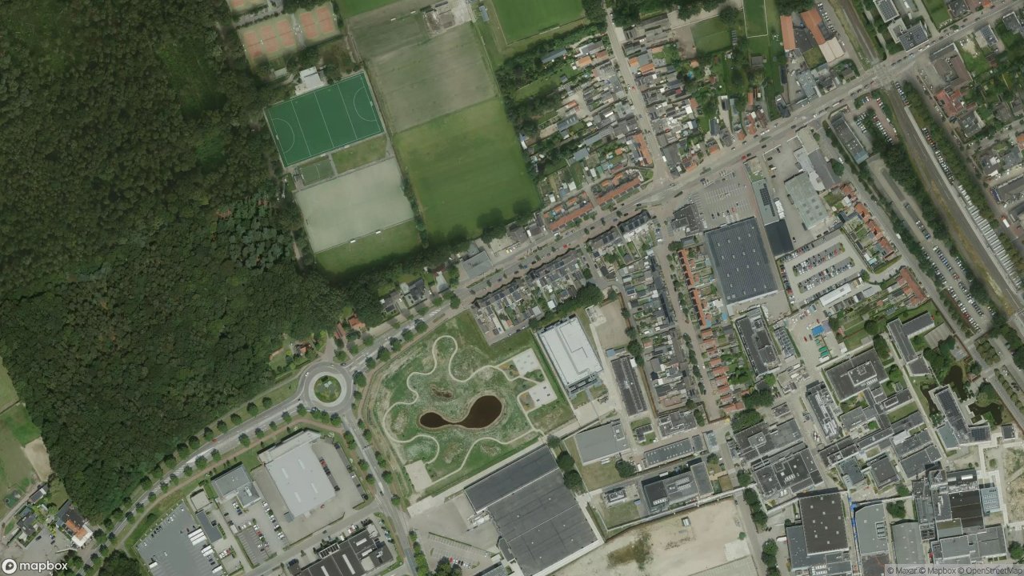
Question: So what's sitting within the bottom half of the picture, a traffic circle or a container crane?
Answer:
traffic circle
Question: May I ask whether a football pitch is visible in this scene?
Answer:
Yes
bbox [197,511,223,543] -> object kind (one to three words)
building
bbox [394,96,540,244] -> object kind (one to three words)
soccer field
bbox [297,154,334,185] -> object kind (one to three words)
sports field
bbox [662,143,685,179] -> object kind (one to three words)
house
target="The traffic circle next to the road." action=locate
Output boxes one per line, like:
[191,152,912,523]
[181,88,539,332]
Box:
[301,363,354,415]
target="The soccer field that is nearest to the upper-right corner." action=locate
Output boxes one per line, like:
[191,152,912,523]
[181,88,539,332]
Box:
[495,0,584,44]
